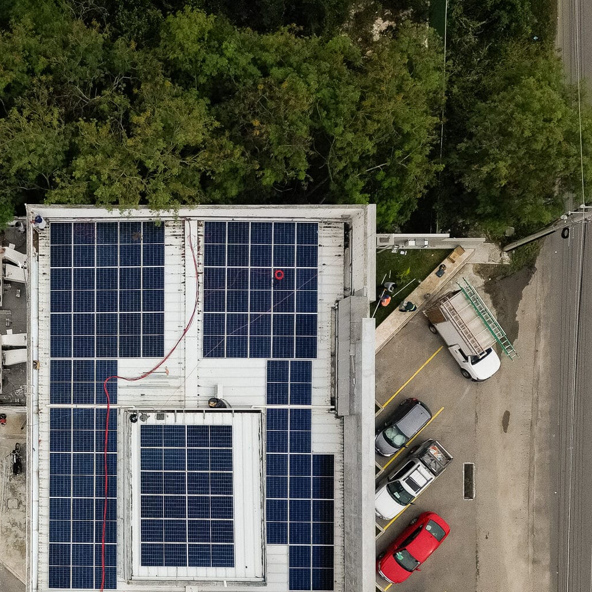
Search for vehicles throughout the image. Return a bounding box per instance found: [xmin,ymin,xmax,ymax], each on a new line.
[375,396,434,461]
[380,512,448,583]
[427,291,498,376]
[375,438,460,518]
[6,442,22,475]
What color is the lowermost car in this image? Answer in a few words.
red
